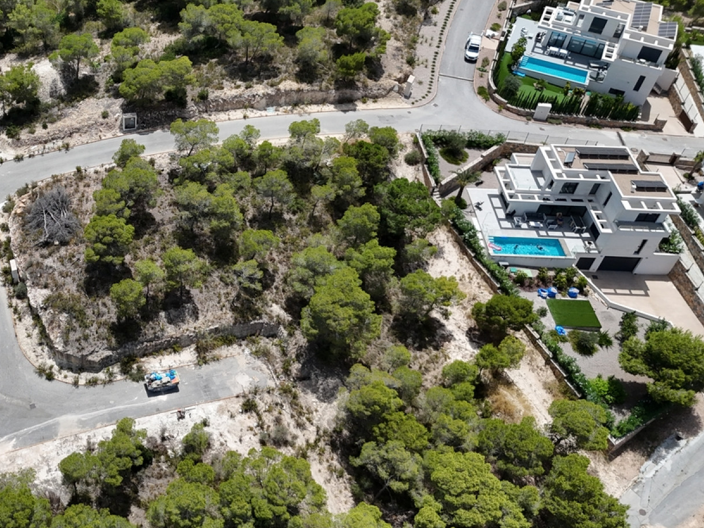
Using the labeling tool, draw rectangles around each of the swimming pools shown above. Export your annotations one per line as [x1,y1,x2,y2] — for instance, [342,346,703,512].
[515,54,591,96]
[483,233,575,272]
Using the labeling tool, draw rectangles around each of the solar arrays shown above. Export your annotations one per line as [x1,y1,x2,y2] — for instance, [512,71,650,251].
[658,23,676,39]
[574,150,630,158]
[581,165,638,172]
[630,183,668,191]
[632,3,651,30]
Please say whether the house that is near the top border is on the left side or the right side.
right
